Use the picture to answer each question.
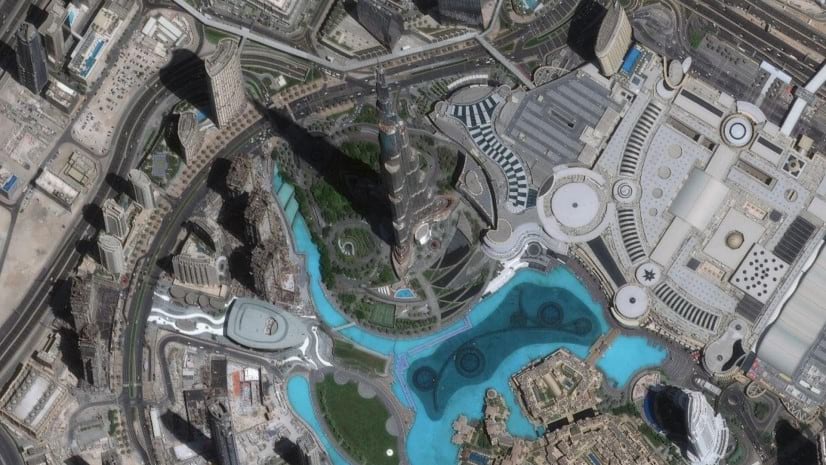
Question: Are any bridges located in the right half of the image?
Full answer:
Yes, I can see a bridge in the right half of the image.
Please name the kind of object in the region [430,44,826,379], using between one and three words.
building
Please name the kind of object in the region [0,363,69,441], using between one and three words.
building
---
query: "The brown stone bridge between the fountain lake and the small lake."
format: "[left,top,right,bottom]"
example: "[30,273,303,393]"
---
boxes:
[582,322,622,367]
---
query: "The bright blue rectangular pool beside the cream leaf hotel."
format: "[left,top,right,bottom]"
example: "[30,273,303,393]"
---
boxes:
[621,46,640,72]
